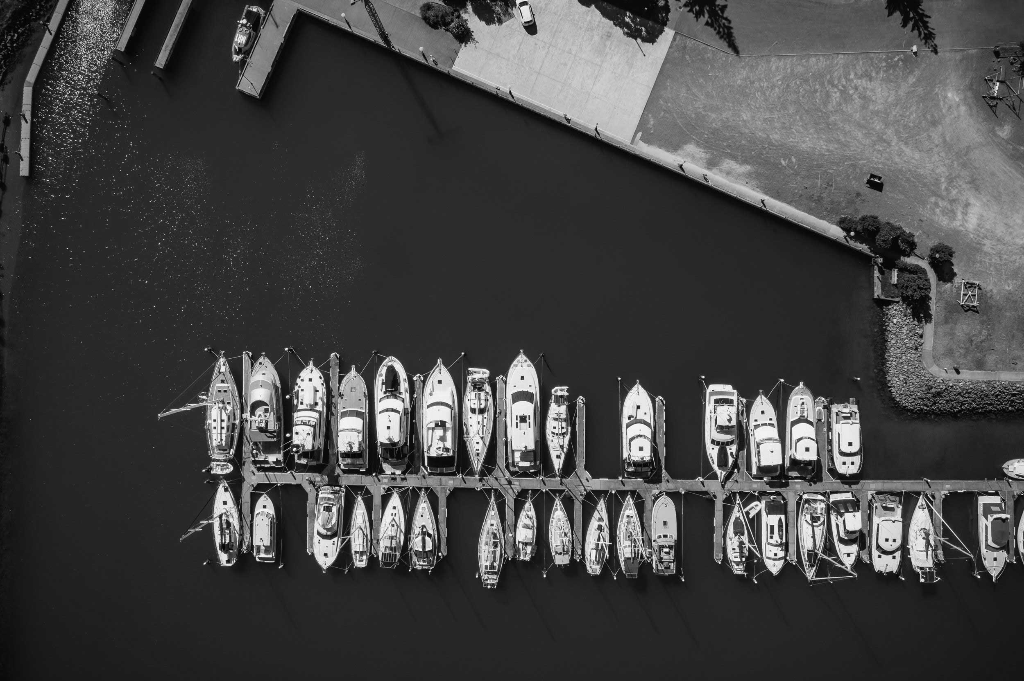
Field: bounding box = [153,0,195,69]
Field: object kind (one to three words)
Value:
pier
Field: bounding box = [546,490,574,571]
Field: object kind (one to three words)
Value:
boat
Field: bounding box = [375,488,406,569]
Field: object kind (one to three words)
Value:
boat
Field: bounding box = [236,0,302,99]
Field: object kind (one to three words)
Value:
pier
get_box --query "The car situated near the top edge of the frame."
[515,0,535,26]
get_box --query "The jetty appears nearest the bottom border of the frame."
[242,351,1024,562]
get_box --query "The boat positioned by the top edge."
[230,1,266,71]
